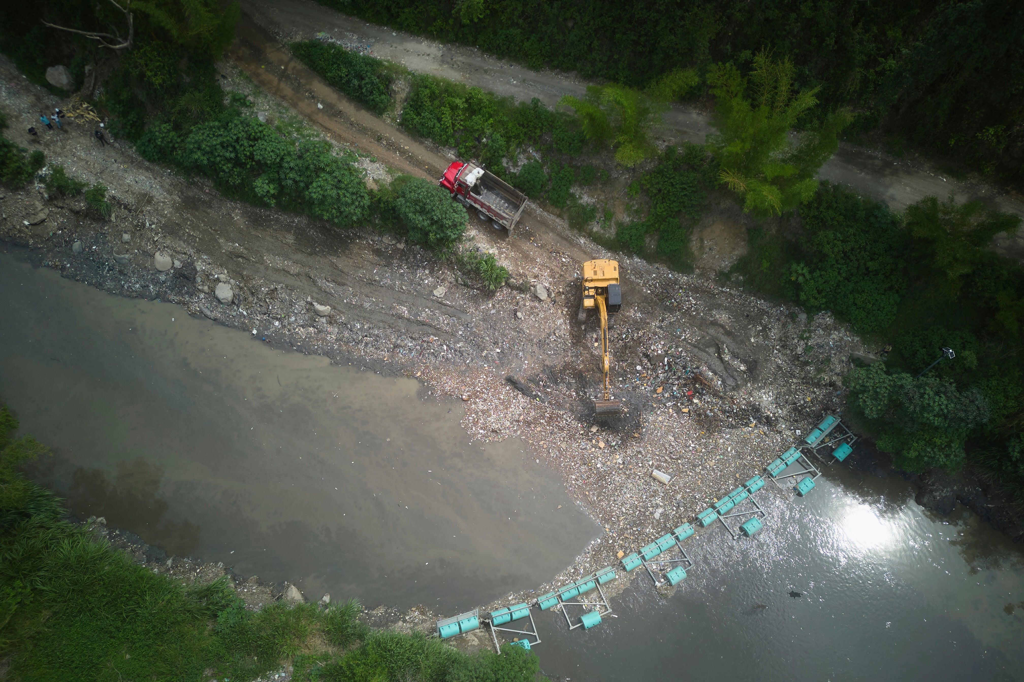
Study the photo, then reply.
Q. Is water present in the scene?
Yes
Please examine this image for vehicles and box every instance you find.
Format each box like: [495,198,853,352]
[576,262,624,407]
[441,153,535,239]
